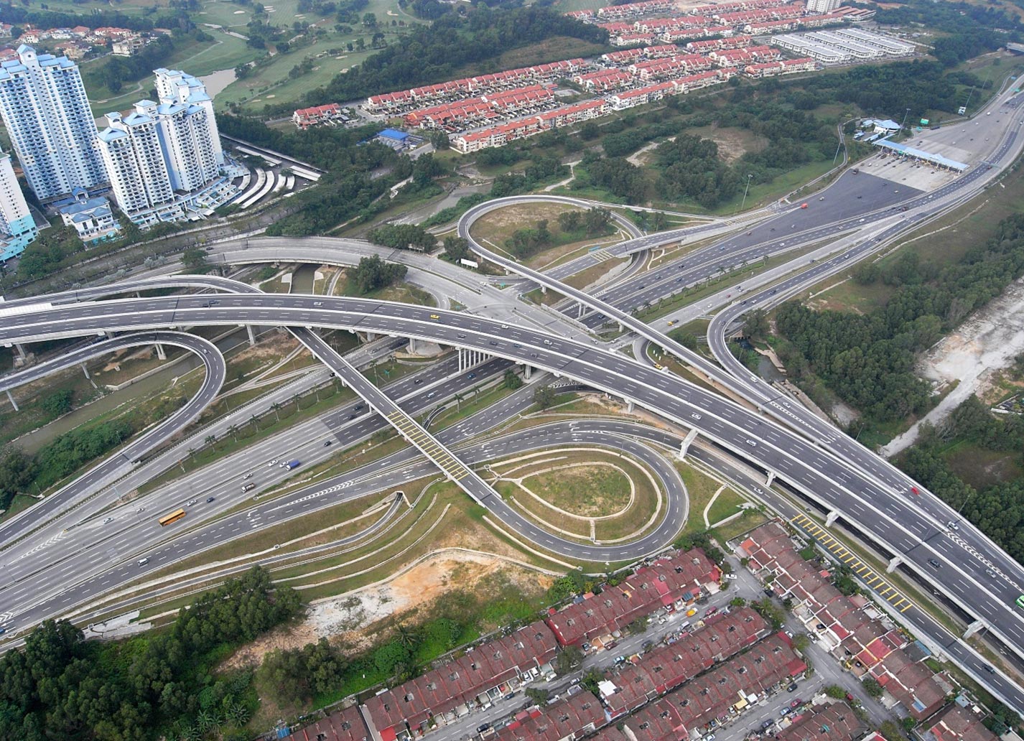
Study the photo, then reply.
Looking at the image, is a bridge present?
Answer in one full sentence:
Yes, the picture does show a bridge.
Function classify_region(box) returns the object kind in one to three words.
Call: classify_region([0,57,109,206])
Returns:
building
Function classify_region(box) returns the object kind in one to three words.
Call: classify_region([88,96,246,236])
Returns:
building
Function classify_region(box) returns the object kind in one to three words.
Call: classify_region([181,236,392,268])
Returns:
bridge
